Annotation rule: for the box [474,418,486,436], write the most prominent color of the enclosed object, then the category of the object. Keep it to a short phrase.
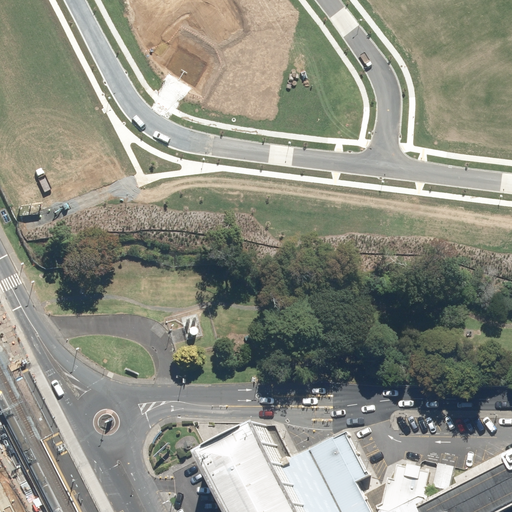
blue vehicle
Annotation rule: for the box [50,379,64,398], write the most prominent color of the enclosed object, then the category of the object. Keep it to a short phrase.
white vehicle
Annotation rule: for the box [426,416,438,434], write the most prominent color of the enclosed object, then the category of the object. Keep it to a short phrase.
white vehicle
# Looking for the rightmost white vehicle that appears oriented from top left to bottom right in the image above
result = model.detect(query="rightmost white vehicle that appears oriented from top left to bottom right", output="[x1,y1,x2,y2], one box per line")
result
[482,416,498,436]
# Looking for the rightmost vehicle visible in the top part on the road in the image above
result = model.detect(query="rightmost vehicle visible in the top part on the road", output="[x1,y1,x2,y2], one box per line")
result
[359,51,374,71]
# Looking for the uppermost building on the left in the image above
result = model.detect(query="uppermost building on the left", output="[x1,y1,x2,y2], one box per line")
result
[182,314,203,340]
